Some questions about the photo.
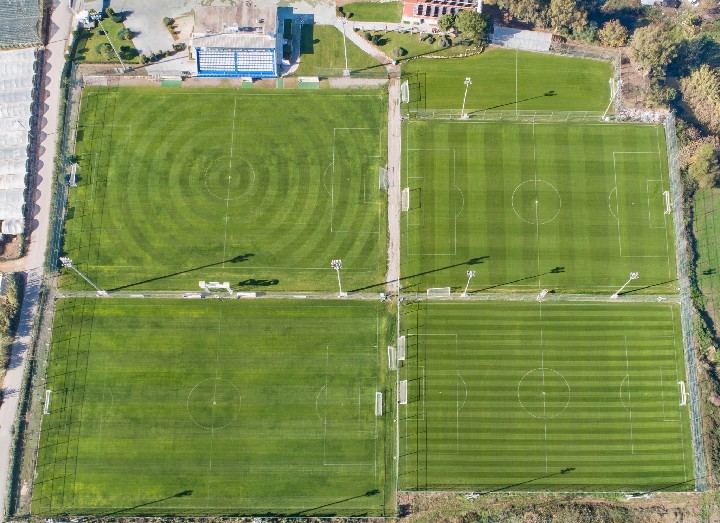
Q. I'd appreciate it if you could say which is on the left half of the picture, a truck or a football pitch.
football pitch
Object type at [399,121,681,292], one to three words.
soccer field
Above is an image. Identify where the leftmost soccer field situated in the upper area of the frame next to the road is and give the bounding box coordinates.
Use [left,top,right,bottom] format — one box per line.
[58,87,390,291]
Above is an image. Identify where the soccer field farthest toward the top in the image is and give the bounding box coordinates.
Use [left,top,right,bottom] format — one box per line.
[401,46,614,113]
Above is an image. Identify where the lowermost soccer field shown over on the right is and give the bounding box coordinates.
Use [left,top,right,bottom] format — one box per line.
[398,302,698,490]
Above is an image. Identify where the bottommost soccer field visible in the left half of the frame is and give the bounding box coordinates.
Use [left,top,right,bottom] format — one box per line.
[31,299,396,517]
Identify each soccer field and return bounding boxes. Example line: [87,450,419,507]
[398,302,698,490]
[401,46,614,113]
[399,121,681,292]
[31,299,396,517]
[58,87,390,291]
